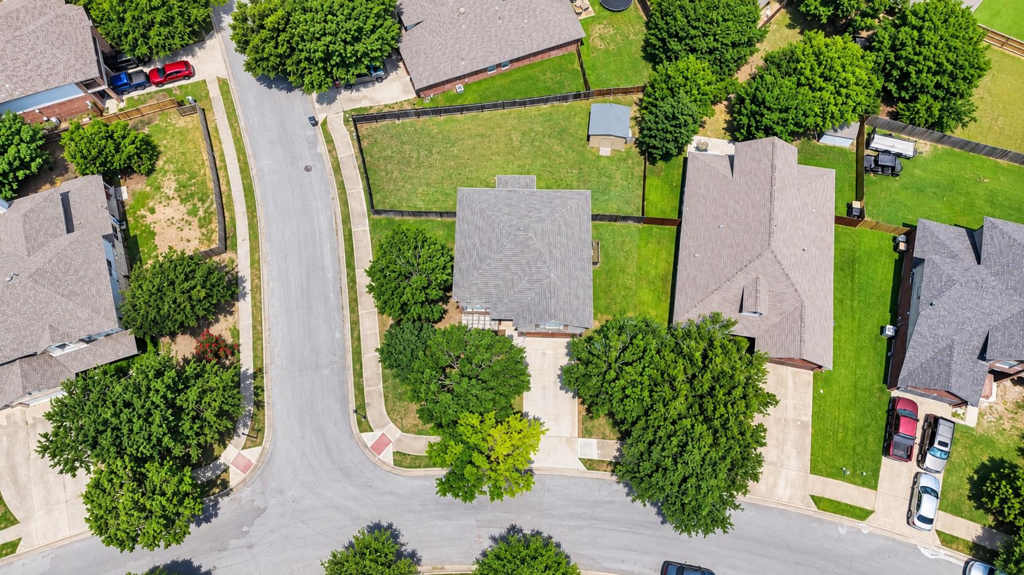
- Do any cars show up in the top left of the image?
Yes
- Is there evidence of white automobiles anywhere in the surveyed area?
Yes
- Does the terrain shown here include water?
No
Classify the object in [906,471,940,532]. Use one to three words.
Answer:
car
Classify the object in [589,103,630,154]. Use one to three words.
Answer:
shed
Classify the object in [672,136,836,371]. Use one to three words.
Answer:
house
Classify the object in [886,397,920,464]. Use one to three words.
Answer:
truck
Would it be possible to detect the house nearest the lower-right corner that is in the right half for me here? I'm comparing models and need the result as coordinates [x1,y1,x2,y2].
[889,216,1024,407]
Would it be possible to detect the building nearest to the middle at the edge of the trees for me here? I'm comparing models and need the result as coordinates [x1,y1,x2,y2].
[451,175,593,336]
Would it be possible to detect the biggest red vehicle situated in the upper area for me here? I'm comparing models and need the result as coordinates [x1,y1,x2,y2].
[149,57,196,87]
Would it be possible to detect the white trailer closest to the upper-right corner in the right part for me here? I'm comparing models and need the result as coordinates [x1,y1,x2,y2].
[871,126,925,158]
